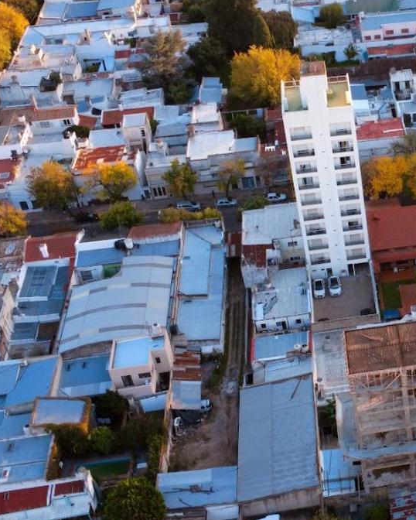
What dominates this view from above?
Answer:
buildings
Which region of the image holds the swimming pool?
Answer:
bottom left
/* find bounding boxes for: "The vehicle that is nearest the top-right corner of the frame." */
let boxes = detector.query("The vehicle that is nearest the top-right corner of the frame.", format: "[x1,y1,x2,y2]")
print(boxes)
[260,188,287,202]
